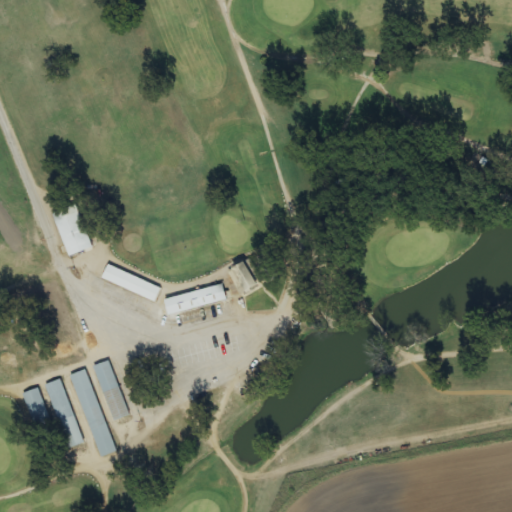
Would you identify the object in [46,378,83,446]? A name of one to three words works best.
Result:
barn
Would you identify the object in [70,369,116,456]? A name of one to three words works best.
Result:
barn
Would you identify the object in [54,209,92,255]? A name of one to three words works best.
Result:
house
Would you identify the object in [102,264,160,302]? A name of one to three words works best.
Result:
shed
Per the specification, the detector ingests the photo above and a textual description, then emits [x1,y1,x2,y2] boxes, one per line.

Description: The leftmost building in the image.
[23,387,57,438]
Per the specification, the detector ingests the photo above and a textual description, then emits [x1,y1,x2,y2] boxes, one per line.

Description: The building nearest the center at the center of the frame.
[230,262,258,293]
